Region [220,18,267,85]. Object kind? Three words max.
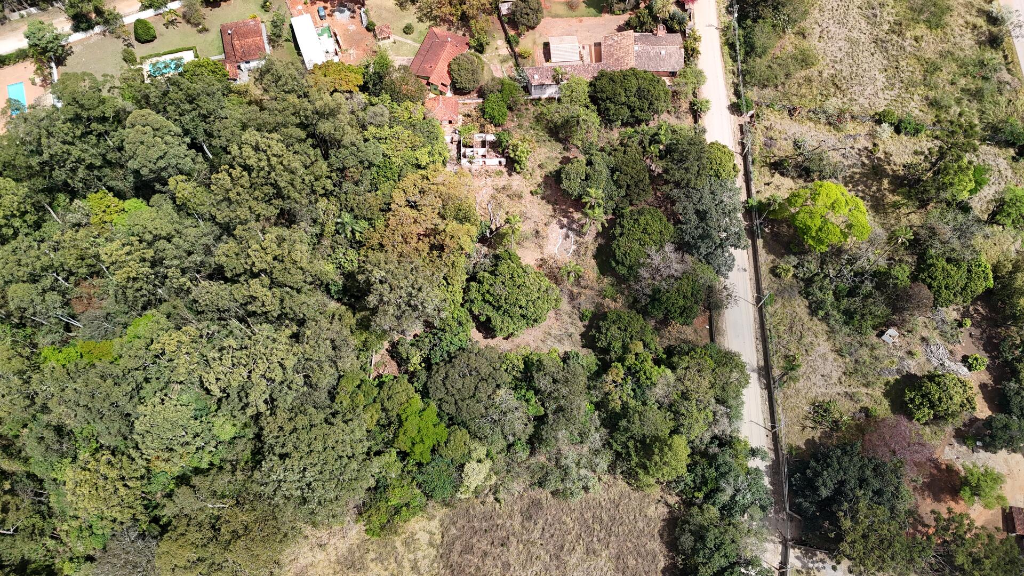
house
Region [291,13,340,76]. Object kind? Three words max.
building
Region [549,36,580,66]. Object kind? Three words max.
shed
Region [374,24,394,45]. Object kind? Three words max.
gazebo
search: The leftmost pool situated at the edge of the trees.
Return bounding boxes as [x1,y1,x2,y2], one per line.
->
[8,82,26,114]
